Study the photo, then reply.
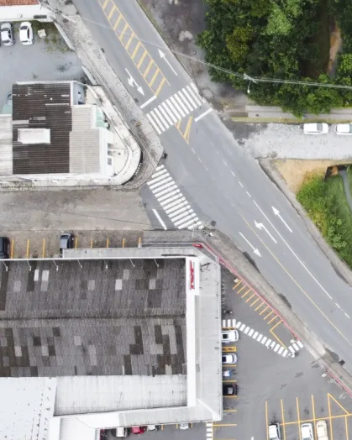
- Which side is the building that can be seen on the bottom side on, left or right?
left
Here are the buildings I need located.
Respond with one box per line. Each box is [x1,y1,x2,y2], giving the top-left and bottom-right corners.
[0,242,230,440]
[0,0,67,28]
[0,81,149,187]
